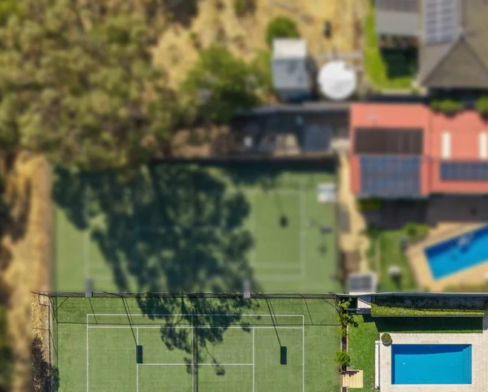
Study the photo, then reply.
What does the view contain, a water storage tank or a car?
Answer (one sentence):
Of the two, only a water storage tank appears.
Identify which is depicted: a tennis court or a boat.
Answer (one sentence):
This aerial view contains a tennis court.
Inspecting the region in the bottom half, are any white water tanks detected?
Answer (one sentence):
No, in the bottom half there is no white water tank.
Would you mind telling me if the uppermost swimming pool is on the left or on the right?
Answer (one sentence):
It is on the right.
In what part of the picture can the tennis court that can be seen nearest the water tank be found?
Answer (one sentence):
The tennis court that can be seen nearest the water tank is in the center part of the image.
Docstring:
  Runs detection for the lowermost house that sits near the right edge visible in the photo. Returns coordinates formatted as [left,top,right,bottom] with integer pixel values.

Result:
[351,103,488,200]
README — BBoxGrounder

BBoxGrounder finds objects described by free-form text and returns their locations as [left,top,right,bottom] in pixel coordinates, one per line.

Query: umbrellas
[387,264,400,278]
